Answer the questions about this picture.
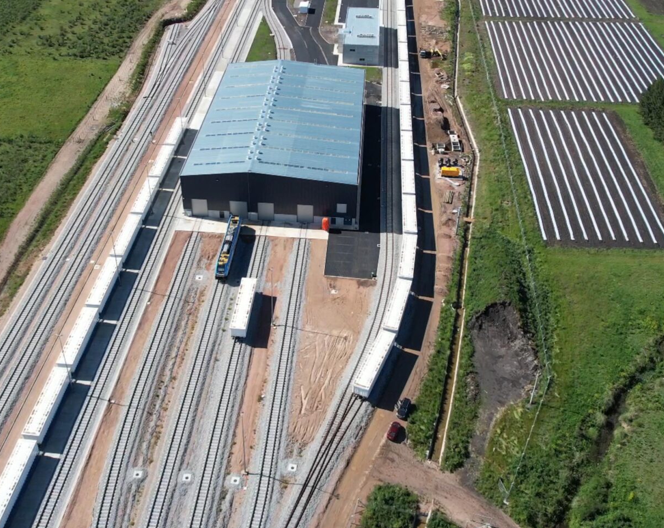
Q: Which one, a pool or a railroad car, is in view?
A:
railroad car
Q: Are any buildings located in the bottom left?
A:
No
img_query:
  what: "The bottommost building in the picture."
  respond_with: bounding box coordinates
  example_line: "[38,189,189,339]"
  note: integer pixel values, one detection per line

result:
[178,59,366,224]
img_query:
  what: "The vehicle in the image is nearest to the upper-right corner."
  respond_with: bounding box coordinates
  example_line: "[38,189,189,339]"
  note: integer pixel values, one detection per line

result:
[419,41,449,58]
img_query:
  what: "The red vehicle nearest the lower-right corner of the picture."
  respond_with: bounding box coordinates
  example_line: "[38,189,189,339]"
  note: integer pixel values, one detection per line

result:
[388,421,401,441]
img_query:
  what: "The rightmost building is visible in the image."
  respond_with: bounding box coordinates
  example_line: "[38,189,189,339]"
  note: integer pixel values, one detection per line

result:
[334,7,379,65]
